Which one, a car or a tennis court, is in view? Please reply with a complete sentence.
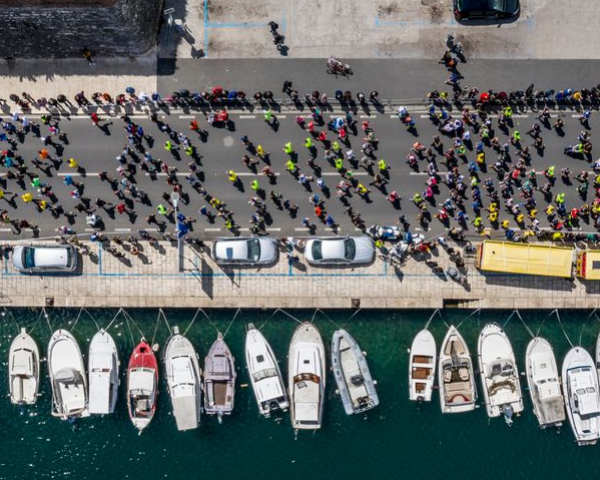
The one in the frame is a car.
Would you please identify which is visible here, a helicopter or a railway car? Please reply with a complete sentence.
Visible in the photo is a railway car.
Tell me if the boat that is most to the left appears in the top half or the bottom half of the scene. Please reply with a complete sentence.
The boat that is most to the left sits in the bottom half of the picture.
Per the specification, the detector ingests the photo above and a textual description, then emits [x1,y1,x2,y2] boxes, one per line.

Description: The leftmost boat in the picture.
[4,308,43,409]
